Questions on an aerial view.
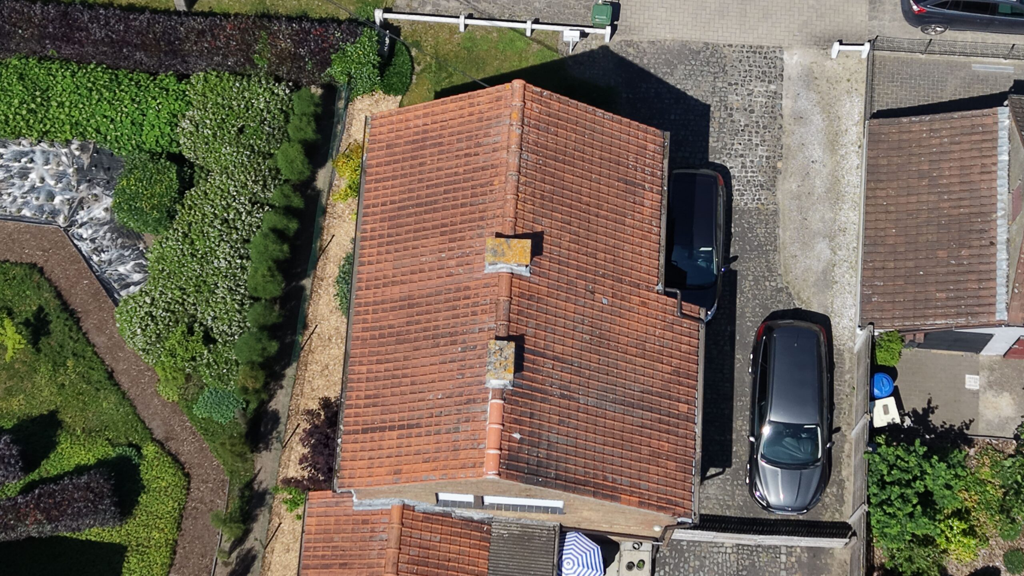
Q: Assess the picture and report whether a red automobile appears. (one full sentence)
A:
No, there isn't any red automobile down there.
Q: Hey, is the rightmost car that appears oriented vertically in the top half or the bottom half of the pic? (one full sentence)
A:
It is in the bottom half that the rightmost car that appears oriented vertically appears.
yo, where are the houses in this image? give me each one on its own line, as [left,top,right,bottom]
[853,91,1024,356]
[331,83,709,556]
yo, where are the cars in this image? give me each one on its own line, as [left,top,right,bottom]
[900,0,1024,35]
[664,168,730,326]
[746,319,835,515]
